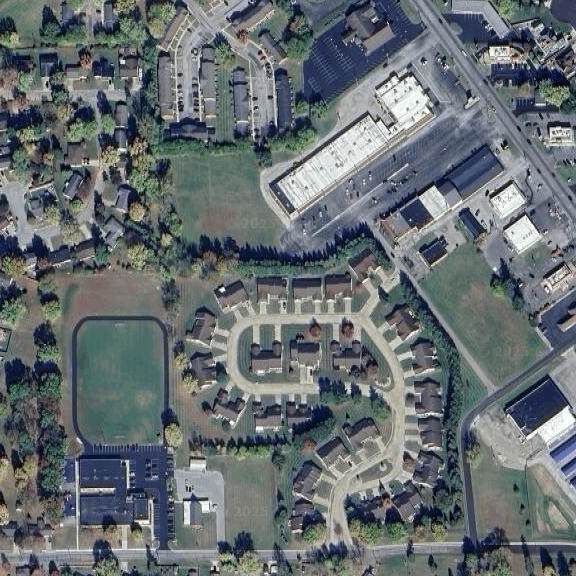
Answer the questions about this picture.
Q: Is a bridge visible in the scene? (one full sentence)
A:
No, the frame has no bridge in it.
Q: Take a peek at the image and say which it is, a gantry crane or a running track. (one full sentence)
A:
The one in the frame is a running track.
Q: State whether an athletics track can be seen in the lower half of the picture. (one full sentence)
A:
Yes, an athletics track appears in the lower half of the picture.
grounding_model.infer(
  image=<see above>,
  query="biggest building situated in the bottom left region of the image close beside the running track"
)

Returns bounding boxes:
[80,458,149,526]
